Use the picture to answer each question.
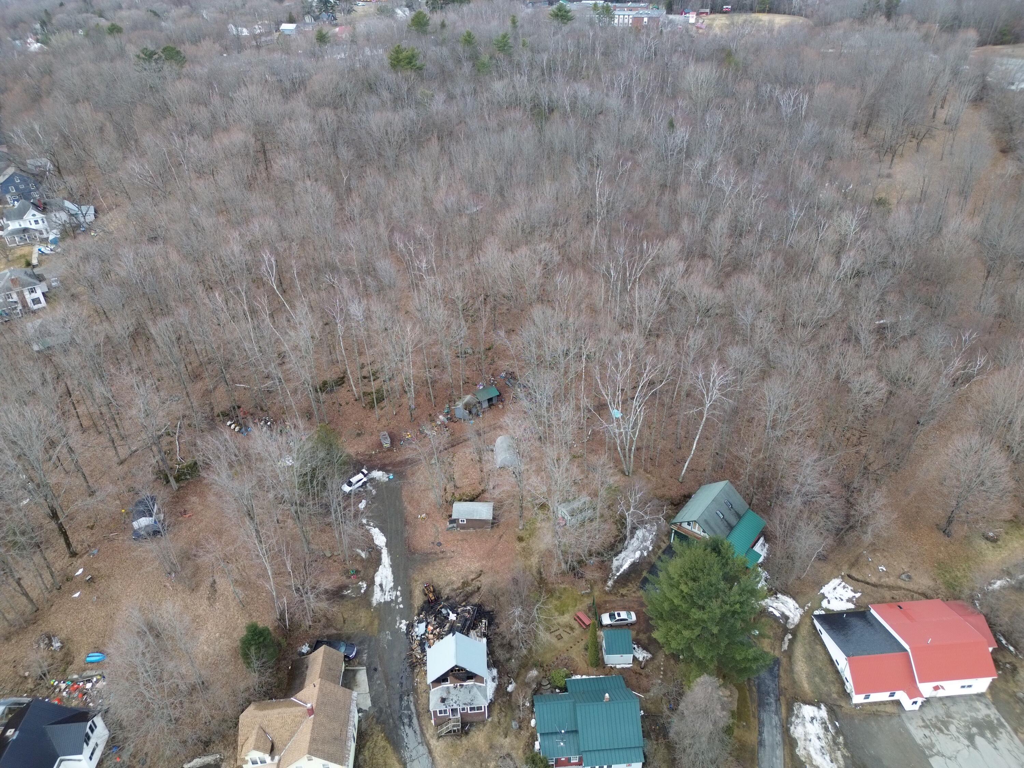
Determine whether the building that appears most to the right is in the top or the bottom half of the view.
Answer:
bottom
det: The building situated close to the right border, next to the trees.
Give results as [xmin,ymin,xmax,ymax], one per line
[816,597,1000,713]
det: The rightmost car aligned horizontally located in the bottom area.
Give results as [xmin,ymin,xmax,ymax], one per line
[599,608,637,624]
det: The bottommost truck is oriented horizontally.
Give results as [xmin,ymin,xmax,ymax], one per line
[309,639,358,662]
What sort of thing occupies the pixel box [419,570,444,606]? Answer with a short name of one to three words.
work vehicle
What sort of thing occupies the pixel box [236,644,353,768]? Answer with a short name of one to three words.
house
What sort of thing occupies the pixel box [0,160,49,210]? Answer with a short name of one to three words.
house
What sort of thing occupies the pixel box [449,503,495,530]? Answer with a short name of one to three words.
shed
